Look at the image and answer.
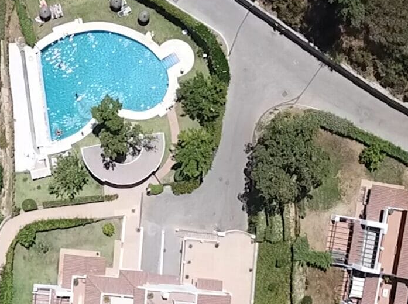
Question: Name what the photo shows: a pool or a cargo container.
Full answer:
Of the two, only a pool appears.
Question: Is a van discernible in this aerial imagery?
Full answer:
No, the frame has no van in it.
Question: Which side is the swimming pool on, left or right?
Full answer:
The swimming pool sits on the left side.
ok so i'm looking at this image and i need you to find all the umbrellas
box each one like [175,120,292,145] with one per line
[110,0,122,9]
[137,12,149,23]
[39,8,52,19]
